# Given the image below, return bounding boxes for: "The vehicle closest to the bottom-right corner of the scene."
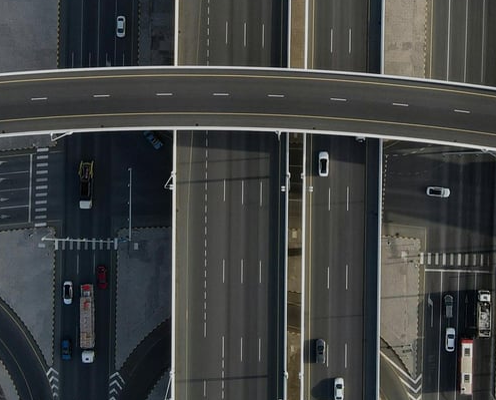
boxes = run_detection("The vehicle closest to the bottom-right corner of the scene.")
[459,338,475,399]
